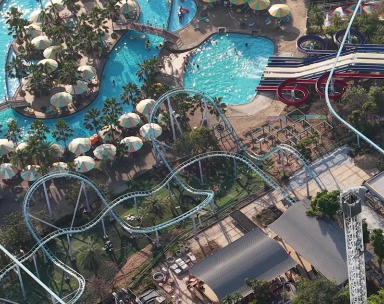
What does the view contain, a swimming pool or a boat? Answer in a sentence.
Visible in the photo is a swimming pool.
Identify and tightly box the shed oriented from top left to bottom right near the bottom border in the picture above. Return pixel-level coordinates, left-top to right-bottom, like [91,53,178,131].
[268,200,356,304]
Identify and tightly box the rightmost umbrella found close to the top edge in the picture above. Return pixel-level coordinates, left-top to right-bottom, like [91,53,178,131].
[268,5,291,22]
